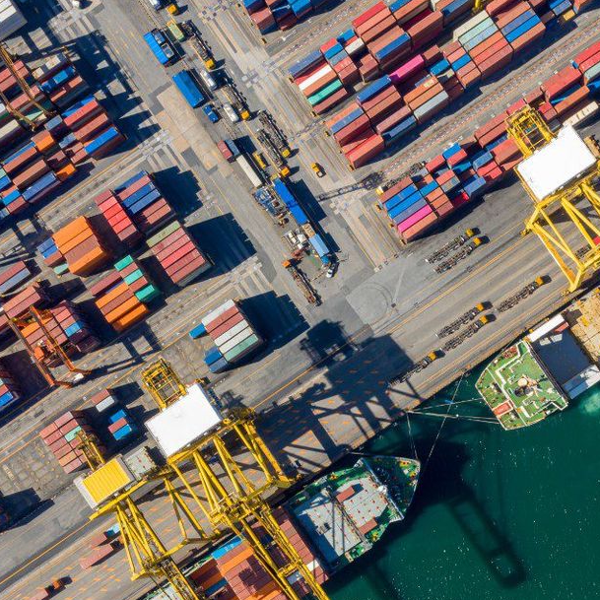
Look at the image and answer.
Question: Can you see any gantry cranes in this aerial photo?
Yes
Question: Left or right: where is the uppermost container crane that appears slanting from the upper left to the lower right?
left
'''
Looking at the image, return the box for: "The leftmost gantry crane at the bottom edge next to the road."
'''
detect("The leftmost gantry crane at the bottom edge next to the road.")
[59,415,225,600]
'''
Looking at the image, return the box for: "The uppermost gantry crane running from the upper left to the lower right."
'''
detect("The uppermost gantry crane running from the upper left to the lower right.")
[0,38,72,149]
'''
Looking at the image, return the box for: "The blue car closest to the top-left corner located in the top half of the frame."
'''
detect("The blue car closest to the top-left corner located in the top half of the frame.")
[202,102,218,125]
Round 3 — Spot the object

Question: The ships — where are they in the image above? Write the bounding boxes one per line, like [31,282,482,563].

[475,286,600,429]
[148,455,421,600]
